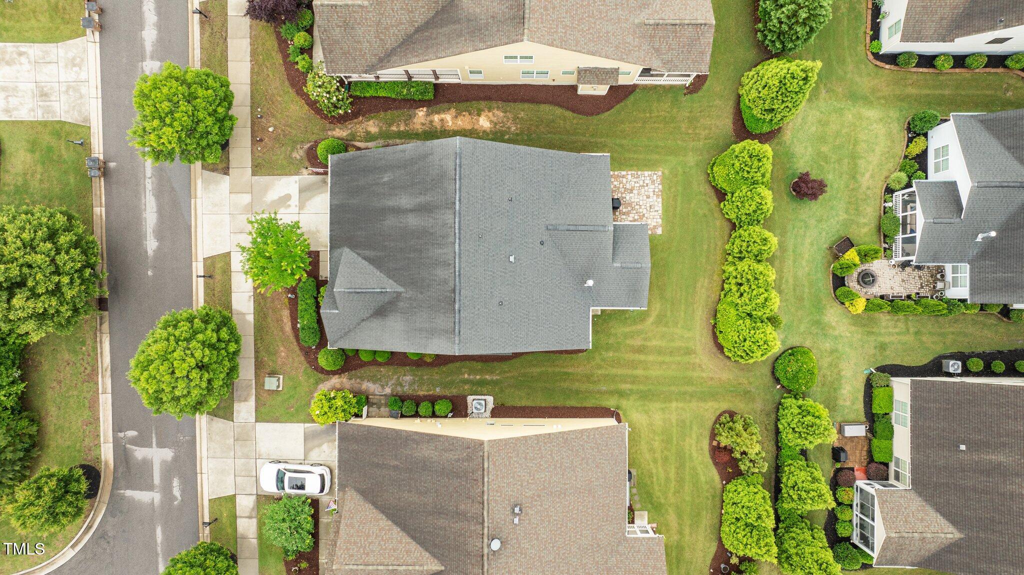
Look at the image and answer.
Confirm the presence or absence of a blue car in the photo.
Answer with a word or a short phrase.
No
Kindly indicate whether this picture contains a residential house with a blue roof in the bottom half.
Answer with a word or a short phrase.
No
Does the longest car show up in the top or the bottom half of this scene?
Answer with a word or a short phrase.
bottom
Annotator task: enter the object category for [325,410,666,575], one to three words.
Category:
house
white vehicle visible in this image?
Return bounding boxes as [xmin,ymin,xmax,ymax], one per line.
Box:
[261,462,332,495]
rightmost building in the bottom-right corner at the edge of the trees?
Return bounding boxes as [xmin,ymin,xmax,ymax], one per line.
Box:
[856,377,1024,575]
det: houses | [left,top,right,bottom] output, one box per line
[894,109,1024,308]
[880,0,1024,54]
[320,137,650,355]
[856,377,1024,575]
[313,0,715,95]
[325,410,666,575]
